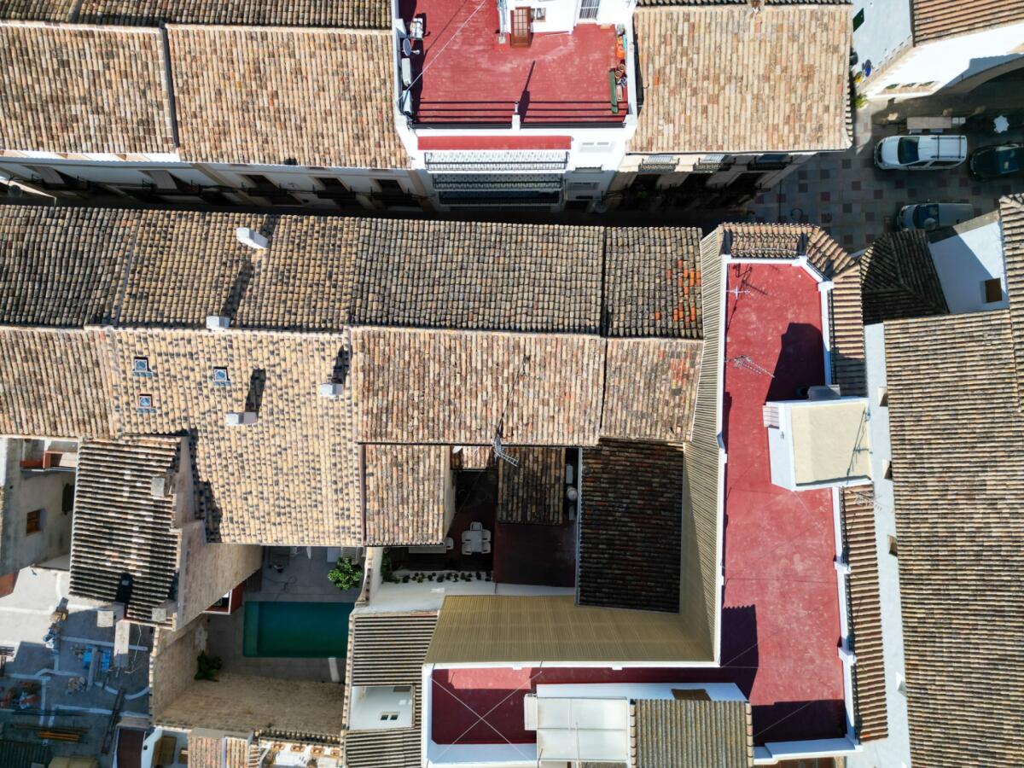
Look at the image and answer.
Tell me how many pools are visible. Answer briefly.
1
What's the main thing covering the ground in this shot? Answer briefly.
buildings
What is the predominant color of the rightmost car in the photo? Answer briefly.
black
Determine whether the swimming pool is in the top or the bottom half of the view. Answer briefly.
bottom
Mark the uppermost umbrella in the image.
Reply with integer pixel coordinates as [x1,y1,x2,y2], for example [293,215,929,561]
[970,115,1010,143]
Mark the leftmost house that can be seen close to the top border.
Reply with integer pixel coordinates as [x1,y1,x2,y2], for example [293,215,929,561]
[0,0,252,210]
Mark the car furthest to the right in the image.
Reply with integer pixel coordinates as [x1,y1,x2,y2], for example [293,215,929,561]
[977,137,1024,182]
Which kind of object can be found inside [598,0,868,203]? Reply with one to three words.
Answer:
house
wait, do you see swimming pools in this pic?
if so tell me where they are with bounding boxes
[238,596,359,663]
